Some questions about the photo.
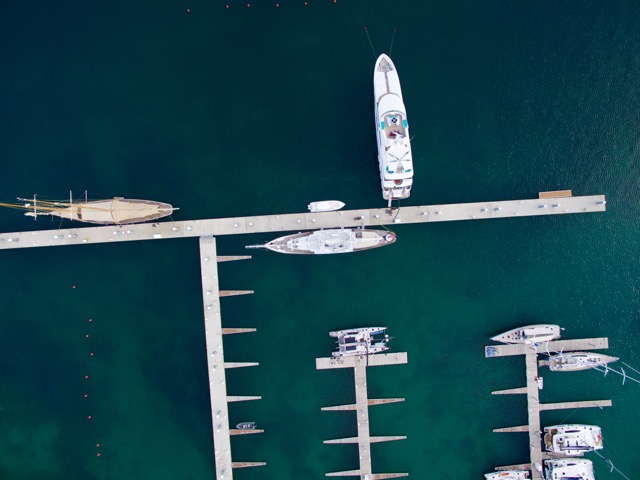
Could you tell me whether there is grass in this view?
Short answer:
No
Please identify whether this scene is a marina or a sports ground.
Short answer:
marina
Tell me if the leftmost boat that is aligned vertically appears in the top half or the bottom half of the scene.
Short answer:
top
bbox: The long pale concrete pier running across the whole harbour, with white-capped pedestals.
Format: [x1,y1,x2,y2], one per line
[0,195,606,250]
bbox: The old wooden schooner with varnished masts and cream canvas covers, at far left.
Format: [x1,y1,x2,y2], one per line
[0,189,178,229]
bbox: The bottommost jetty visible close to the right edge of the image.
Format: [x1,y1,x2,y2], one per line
[485,338,611,480]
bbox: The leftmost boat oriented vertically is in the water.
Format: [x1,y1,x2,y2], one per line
[365,28,415,210]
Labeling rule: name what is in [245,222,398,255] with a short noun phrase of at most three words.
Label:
boat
